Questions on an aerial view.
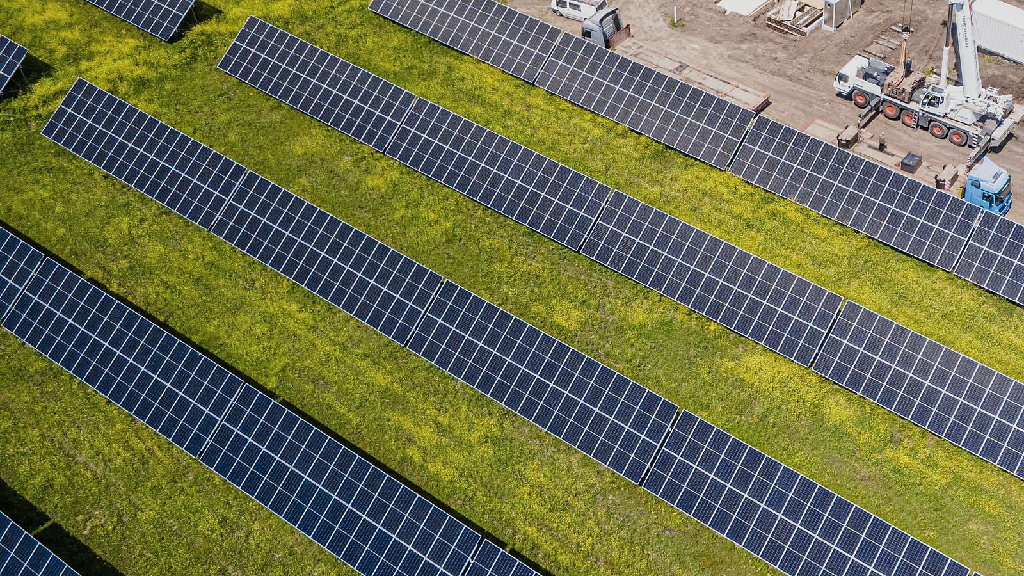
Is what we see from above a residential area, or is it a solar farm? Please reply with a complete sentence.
This looks like a solar farm.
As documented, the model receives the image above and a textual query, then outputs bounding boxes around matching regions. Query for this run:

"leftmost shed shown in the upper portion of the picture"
[822,0,862,34]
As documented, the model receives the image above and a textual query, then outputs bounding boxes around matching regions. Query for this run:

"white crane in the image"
[830,0,1024,180]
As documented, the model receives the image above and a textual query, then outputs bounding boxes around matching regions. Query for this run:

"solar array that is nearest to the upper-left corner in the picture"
[0,35,28,98]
